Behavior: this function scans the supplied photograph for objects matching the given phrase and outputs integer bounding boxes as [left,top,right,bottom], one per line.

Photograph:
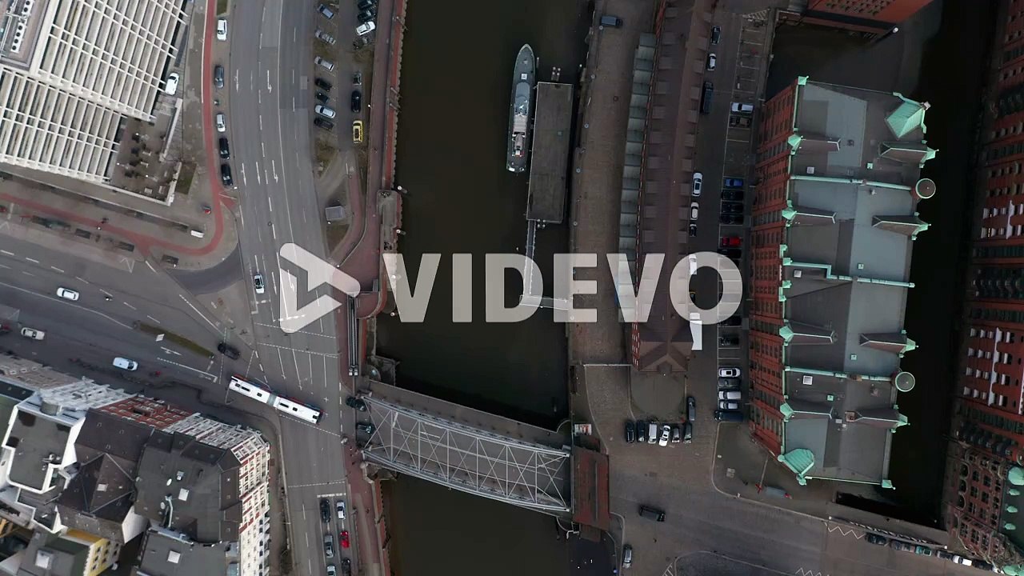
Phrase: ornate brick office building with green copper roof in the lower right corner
[944,437,1024,576]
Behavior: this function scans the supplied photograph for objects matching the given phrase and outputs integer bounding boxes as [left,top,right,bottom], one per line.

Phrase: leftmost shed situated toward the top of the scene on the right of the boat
[616,0,715,377]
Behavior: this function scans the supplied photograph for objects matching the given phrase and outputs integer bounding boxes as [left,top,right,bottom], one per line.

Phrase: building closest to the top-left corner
[0,0,184,184]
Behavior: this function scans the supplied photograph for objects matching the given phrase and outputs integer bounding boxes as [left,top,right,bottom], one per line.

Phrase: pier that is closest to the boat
[523,81,573,225]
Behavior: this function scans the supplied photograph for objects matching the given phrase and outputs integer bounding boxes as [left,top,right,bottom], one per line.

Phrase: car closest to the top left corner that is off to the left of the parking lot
[165,73,178,94]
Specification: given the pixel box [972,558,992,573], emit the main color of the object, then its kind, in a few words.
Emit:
black car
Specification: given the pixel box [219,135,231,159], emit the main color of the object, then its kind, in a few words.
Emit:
black vehicle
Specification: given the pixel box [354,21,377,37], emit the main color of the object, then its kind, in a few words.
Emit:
white car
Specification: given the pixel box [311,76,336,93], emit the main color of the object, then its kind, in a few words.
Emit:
black car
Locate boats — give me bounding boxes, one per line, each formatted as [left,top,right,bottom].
[506,44,534,173]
